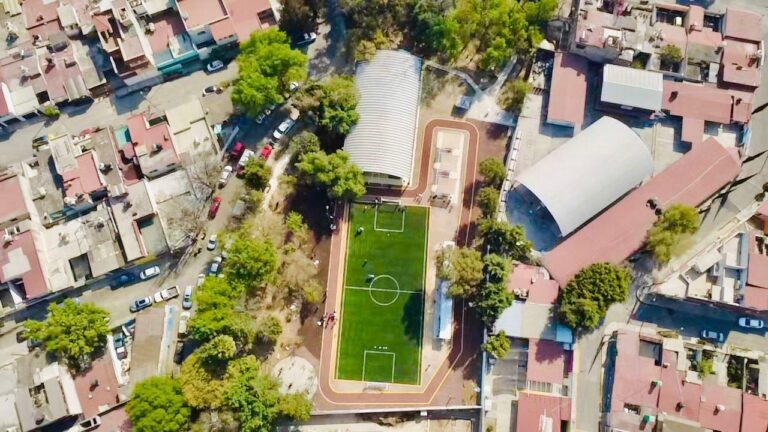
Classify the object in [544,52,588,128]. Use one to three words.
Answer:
building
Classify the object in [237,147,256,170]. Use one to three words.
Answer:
vehicle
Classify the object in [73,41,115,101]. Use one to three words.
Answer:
house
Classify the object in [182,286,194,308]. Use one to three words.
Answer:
vehicle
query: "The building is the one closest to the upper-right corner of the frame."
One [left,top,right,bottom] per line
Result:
[714,9,763,45]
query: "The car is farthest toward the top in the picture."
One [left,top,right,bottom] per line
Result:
[295,32,316,45]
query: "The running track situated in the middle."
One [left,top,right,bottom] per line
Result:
[320,118,479,404]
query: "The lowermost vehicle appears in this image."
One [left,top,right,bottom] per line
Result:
[64,412,100,432]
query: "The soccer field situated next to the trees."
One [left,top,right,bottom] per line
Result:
[333,203,430,387]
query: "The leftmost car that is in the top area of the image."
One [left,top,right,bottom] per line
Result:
[30,136,50,148]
